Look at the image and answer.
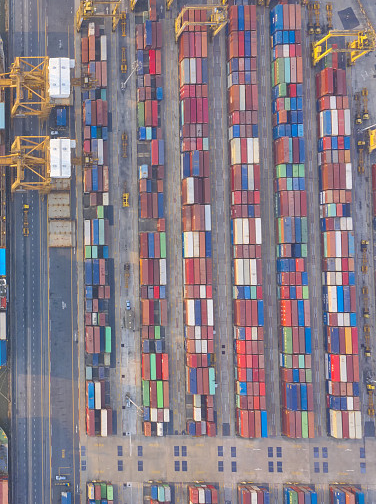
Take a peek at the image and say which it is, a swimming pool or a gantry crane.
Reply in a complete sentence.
The one in the frame is a gantry crane.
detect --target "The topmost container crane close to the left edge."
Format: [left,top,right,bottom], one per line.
[0,53,112,131]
